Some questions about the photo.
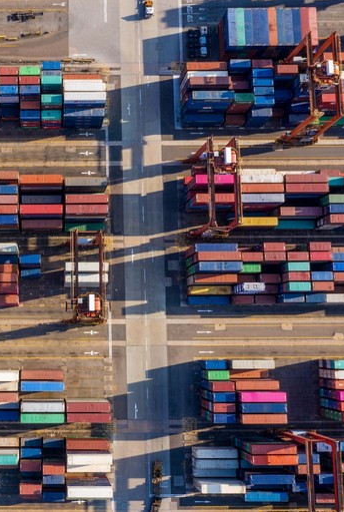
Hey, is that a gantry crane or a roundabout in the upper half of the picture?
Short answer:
gantry crane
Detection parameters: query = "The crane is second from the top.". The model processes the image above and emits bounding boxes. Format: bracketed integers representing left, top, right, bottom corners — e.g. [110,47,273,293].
[184,134,243,235]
